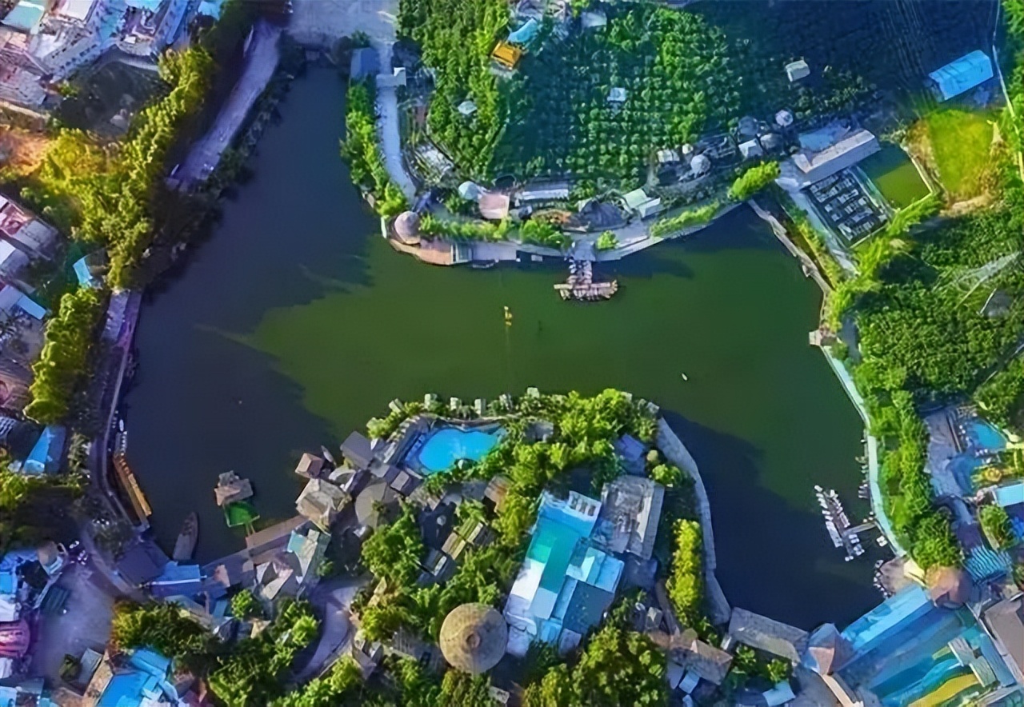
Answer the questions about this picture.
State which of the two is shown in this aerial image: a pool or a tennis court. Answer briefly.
pool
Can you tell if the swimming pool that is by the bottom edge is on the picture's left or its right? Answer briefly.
right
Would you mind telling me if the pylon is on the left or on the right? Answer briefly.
right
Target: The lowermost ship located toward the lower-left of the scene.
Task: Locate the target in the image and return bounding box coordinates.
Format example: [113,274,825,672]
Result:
[169,511,194,562]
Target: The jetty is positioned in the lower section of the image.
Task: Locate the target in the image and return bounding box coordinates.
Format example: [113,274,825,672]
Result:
[825,490,877,565]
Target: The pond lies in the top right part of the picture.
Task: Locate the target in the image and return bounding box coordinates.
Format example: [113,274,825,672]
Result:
[859,143,936,209]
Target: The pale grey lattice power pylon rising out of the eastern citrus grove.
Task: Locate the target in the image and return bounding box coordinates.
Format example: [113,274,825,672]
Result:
[948,250,1024,308]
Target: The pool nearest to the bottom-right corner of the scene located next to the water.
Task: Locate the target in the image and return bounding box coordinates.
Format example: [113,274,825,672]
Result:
[846,603,1003,707]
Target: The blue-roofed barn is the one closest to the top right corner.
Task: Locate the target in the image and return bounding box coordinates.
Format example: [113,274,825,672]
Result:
[922,50,993,110]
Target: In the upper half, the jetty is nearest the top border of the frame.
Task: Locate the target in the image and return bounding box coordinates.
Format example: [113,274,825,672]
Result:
[554,261,610,289]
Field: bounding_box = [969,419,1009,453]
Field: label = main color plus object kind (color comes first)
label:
blue swimming pool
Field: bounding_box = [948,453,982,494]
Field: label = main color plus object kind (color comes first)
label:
blue swimming pool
